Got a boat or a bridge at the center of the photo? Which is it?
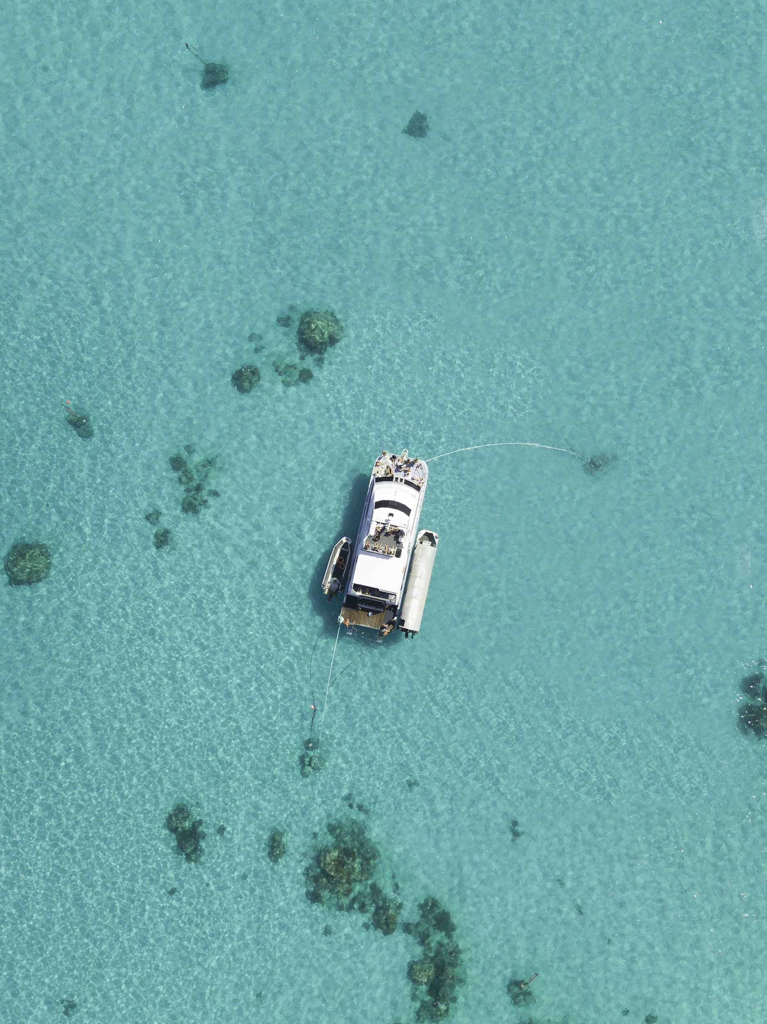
boat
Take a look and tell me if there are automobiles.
No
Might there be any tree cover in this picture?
No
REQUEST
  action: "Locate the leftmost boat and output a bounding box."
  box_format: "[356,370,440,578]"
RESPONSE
[322,537,354,601]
